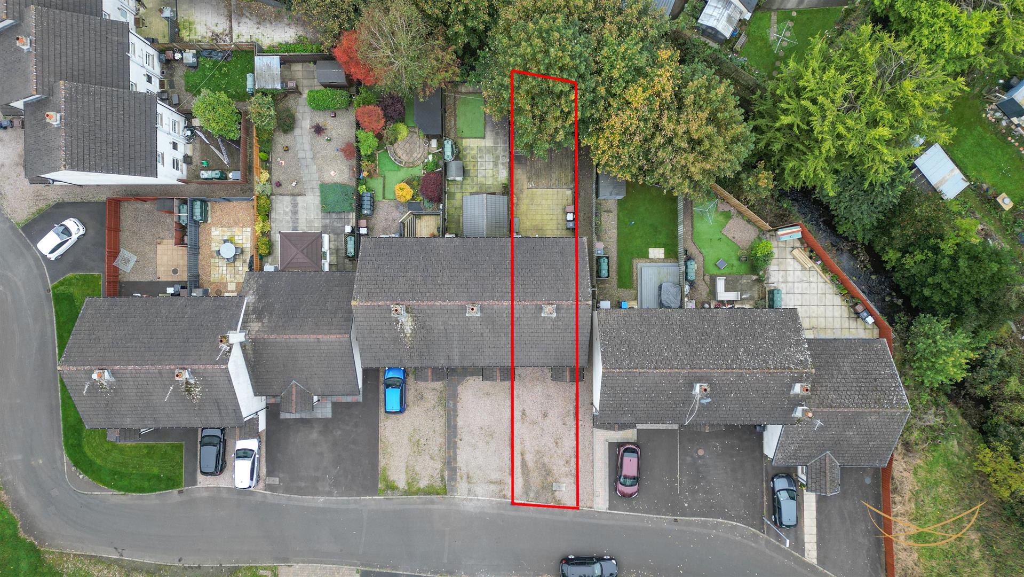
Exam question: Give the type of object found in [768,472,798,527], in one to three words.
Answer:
car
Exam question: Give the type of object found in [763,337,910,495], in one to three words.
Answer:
house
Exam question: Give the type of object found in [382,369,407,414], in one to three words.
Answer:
car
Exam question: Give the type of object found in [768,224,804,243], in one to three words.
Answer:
shed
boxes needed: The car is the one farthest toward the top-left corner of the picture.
[35,218,92,261]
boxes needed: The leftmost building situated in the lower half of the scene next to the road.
[57,295,268,442]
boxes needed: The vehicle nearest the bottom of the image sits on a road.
[560,553,616,577]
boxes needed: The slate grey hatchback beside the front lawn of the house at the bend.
[197,430,228,477]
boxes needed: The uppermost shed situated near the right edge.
[987,82,1024,129]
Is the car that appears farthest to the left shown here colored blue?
No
